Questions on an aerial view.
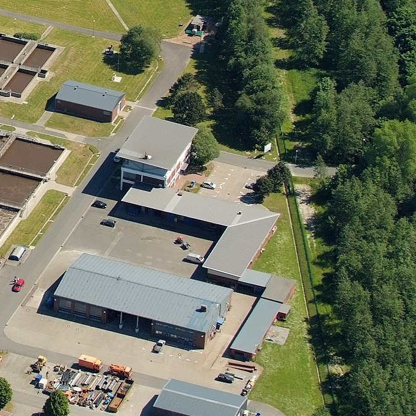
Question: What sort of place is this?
industrial area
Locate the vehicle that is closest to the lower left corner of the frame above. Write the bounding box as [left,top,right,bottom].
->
[31,355,48,371]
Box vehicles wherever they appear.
[176,234,185,242]
[101,218,116,226]
[202,181,217,188]
[217,374,234,382]
[109,364,132,377]
[31,355,48,371]
[93,201,107,207]
[154,339,165,351]
[243,181,256,189]
[79,353,102,370]
[15,280,24,290]
[187,251,205,262]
